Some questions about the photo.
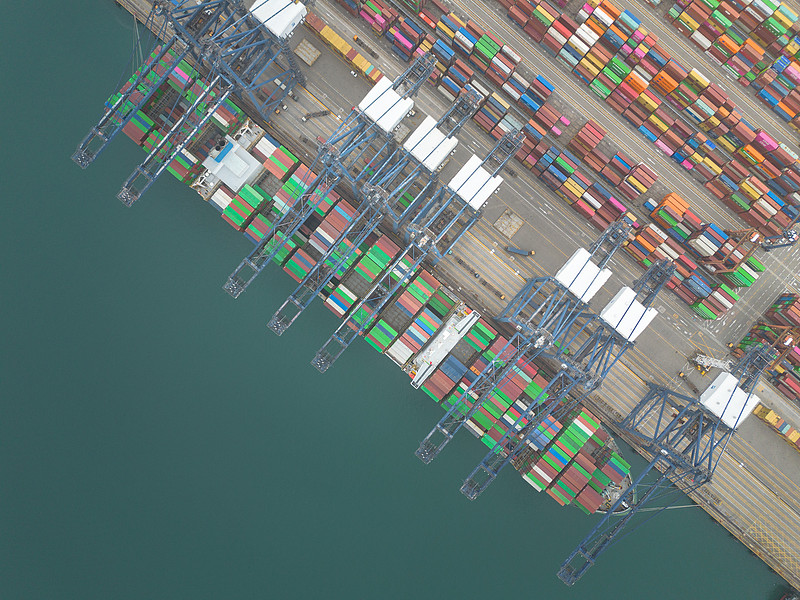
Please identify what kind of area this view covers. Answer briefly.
port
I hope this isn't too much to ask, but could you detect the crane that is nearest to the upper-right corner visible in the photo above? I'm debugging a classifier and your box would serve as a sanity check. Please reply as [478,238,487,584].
[761,207,800,255]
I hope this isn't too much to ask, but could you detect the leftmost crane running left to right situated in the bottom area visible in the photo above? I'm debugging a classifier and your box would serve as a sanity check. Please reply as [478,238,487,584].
[688,350,745,376]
